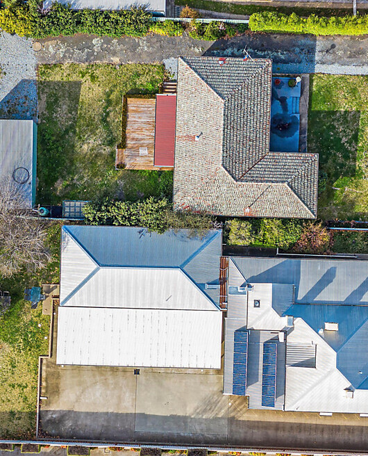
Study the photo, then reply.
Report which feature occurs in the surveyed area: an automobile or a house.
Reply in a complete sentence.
The image shows a house.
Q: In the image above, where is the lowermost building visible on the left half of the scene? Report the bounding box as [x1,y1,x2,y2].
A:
[60,225,224,312]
